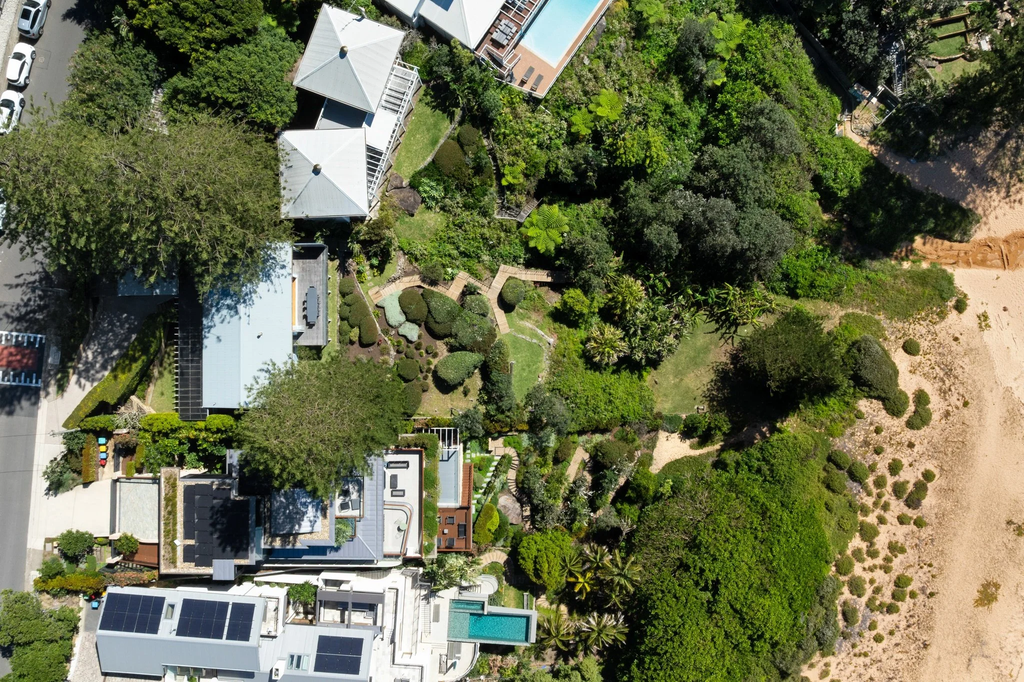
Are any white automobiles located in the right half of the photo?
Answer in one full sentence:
No, no white automobile is visible in the right half of the photo.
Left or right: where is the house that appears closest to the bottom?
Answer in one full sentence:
The house that appears closest to the bottom sits on the left side.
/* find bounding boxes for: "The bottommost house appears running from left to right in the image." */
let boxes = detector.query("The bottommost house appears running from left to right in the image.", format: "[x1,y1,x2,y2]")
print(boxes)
[96,561,498,682]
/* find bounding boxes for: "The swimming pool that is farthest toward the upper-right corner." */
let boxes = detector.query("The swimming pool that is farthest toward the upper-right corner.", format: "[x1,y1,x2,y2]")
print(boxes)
[521,0,599,68]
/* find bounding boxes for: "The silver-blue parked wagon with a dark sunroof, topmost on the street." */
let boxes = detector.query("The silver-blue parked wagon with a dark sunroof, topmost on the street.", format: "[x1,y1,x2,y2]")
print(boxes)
[19,0,53,40]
